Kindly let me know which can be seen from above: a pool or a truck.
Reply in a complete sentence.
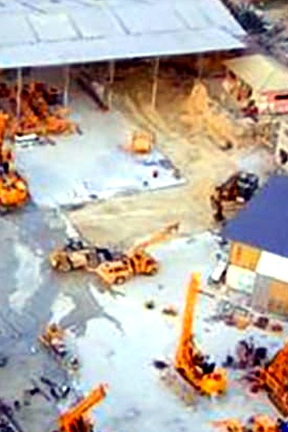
The image shows a truck.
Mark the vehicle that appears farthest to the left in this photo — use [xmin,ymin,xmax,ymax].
[43,232,105,271]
